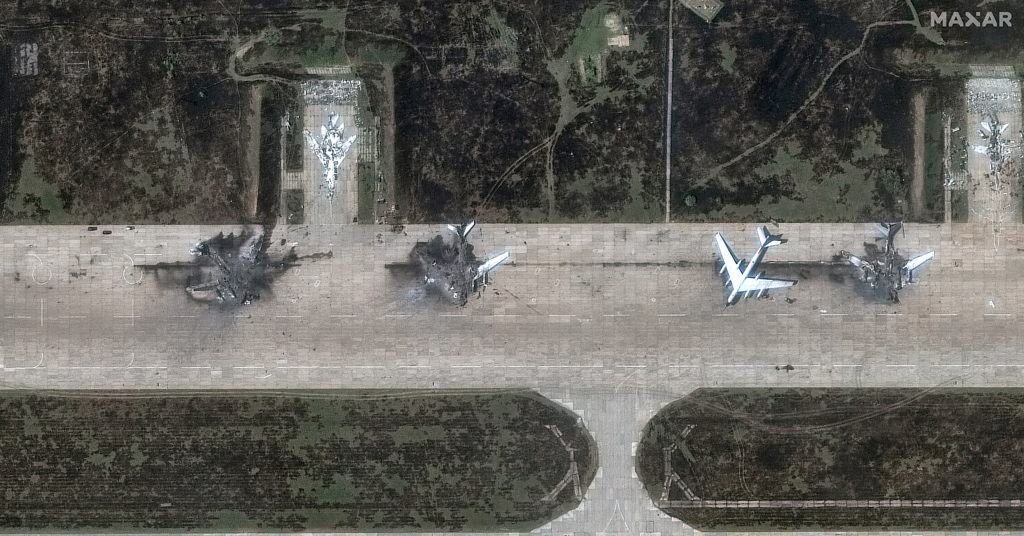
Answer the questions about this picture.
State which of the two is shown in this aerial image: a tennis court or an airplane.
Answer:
airplane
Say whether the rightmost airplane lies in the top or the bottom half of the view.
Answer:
top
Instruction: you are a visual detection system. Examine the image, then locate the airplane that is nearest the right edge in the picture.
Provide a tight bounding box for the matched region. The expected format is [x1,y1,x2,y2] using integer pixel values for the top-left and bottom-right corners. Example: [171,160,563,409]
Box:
[973,112,1024,188]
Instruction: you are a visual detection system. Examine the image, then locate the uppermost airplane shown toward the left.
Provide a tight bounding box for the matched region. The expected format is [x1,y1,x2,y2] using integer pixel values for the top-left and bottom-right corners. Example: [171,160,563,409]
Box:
[303,112,357,202]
